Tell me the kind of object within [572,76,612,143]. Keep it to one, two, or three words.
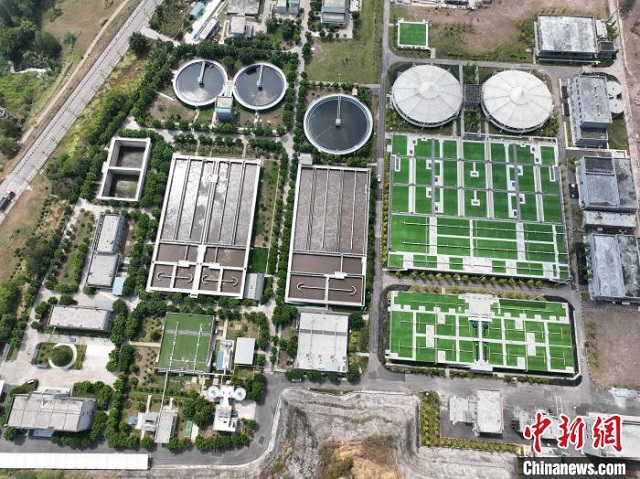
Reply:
building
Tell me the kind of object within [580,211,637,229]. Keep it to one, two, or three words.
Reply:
shed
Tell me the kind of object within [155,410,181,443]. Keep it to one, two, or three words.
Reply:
building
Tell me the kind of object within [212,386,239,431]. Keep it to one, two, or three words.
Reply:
house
